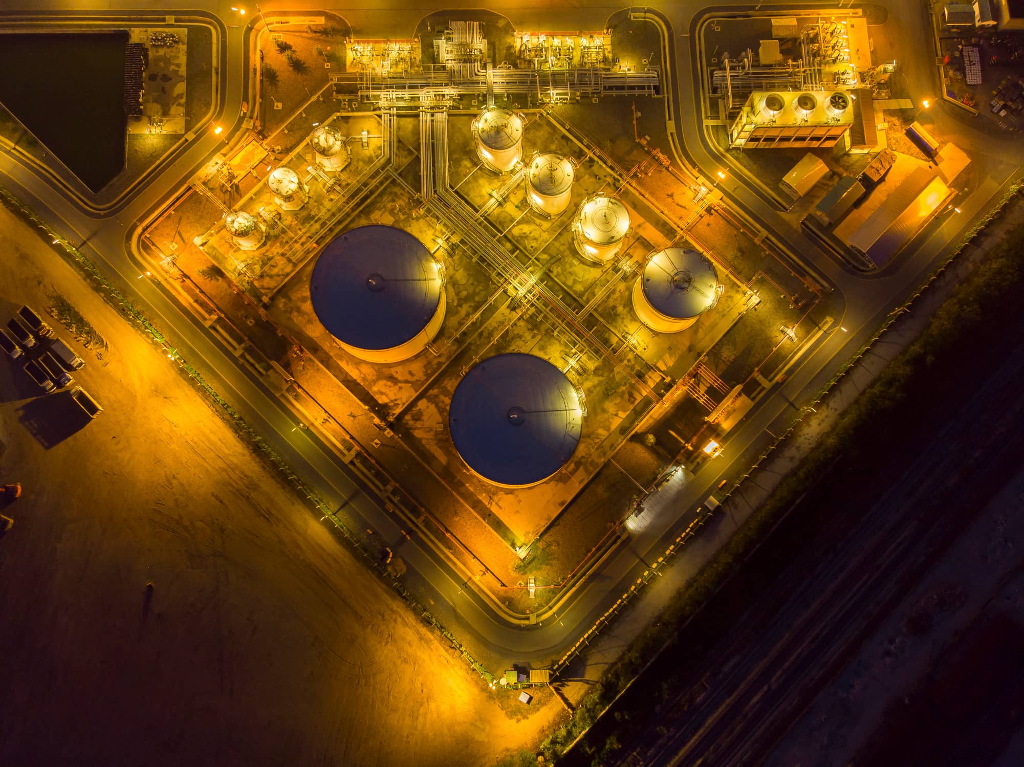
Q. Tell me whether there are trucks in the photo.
Yes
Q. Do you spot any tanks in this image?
Yes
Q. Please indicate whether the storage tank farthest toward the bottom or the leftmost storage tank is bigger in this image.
the storage tank farthest toward the bottom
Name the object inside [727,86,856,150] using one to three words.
cooling tower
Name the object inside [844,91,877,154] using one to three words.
building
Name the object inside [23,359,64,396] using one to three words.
truck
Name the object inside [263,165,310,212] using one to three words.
storage tank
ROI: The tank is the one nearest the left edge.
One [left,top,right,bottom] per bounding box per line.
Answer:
[219,208,270,254]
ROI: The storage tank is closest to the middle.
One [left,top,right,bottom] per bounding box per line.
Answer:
[448,353,588,492]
